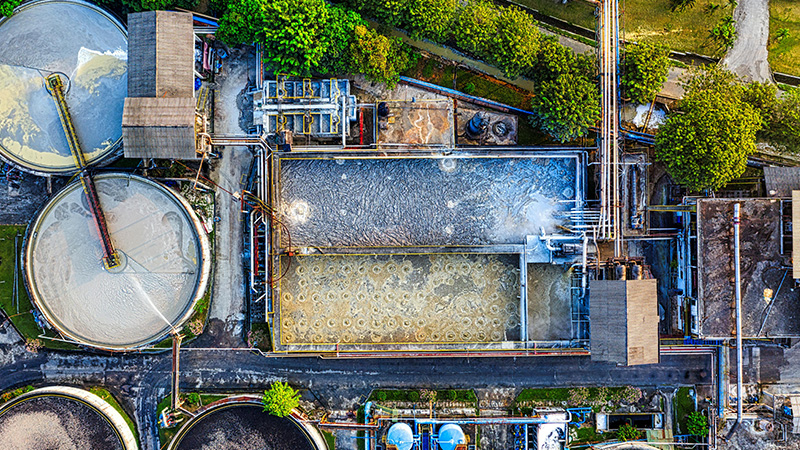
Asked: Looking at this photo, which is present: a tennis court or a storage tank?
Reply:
storage tank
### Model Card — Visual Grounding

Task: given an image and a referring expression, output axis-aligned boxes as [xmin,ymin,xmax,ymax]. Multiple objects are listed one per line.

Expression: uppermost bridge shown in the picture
[50,77,91,167]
